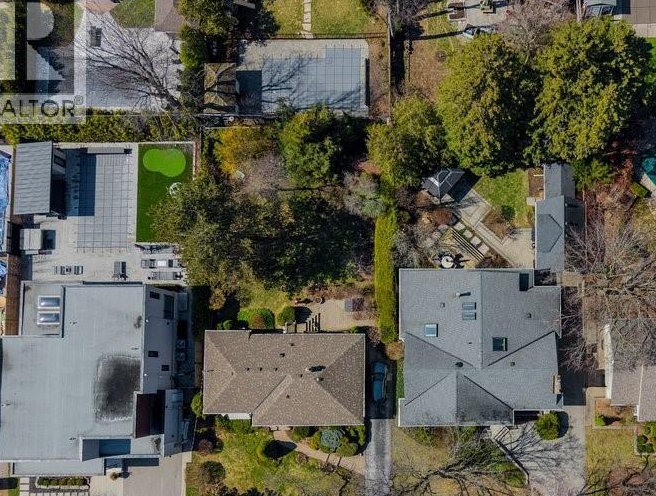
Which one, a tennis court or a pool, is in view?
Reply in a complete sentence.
Looking from above, you can make out a pool.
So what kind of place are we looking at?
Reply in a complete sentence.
This image shows a residential area.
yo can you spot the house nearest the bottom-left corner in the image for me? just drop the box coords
[0,284,192,477]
